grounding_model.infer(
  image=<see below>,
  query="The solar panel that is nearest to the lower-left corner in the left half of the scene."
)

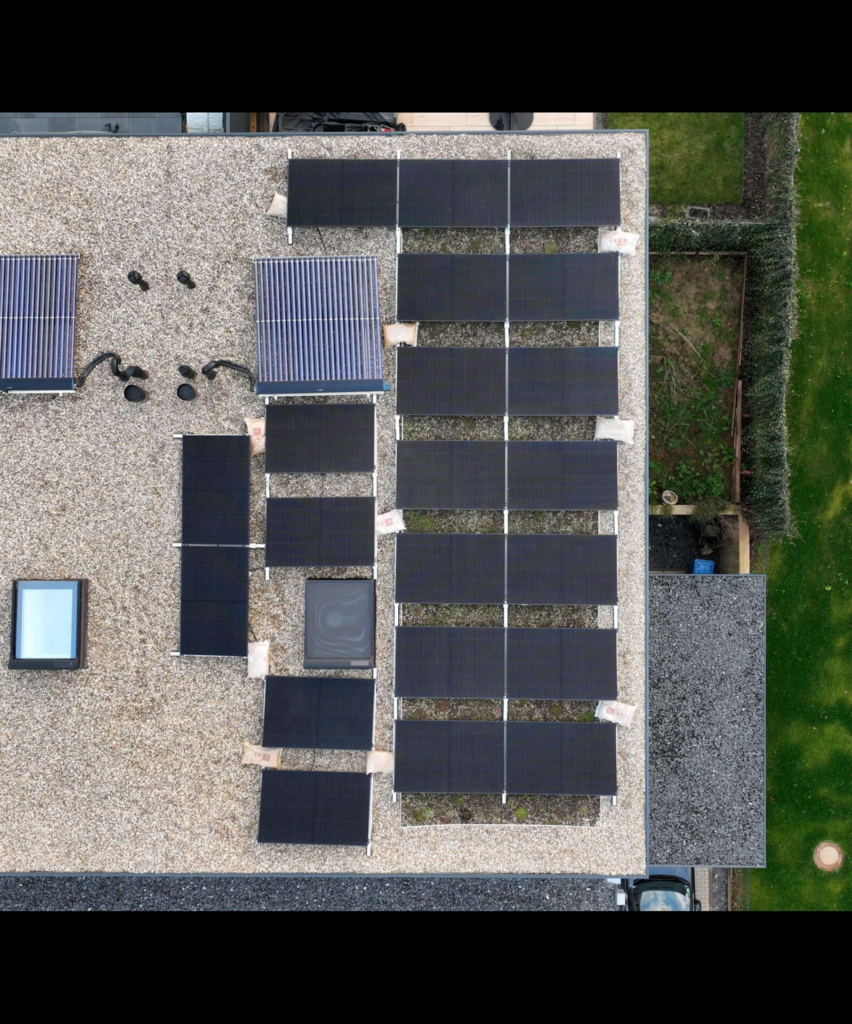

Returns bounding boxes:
[258,769,371,845]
